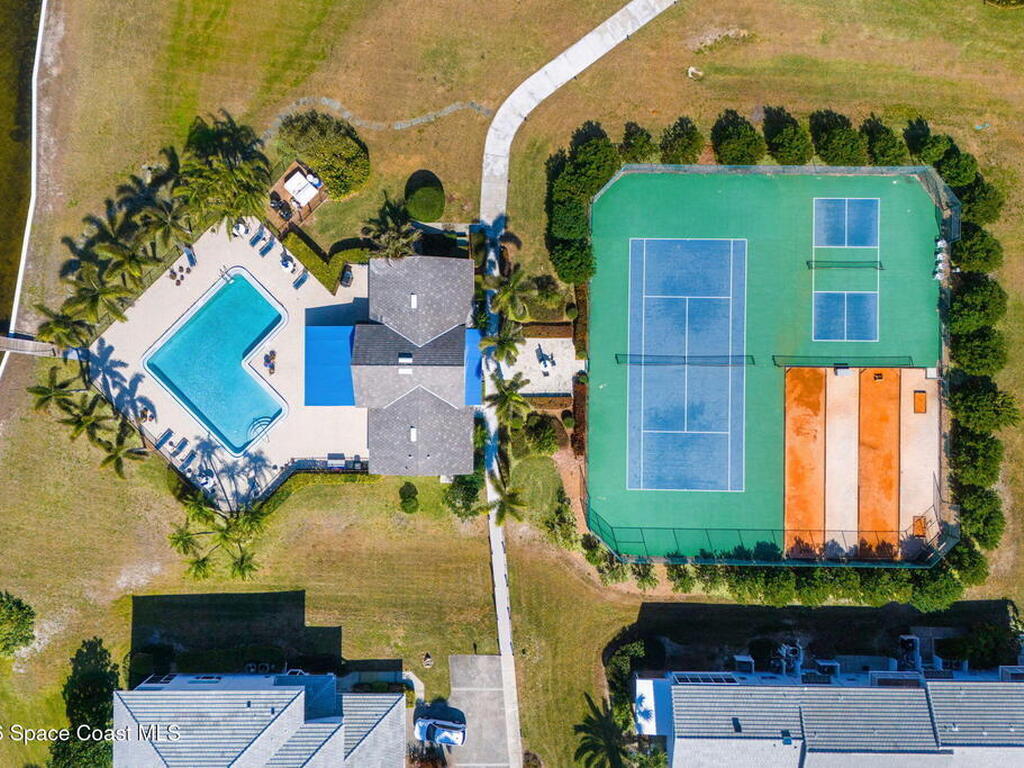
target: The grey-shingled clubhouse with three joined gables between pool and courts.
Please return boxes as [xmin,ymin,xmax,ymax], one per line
[351,255,474,476]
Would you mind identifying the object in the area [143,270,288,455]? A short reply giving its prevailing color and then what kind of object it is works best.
blue swimming pool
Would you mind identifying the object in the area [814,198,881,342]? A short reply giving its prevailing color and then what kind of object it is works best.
blue sports court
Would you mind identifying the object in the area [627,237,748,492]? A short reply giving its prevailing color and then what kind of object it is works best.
blue tennis court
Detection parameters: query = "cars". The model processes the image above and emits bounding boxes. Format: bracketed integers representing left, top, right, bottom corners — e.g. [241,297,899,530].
[415,718,468,746]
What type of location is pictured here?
residential area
